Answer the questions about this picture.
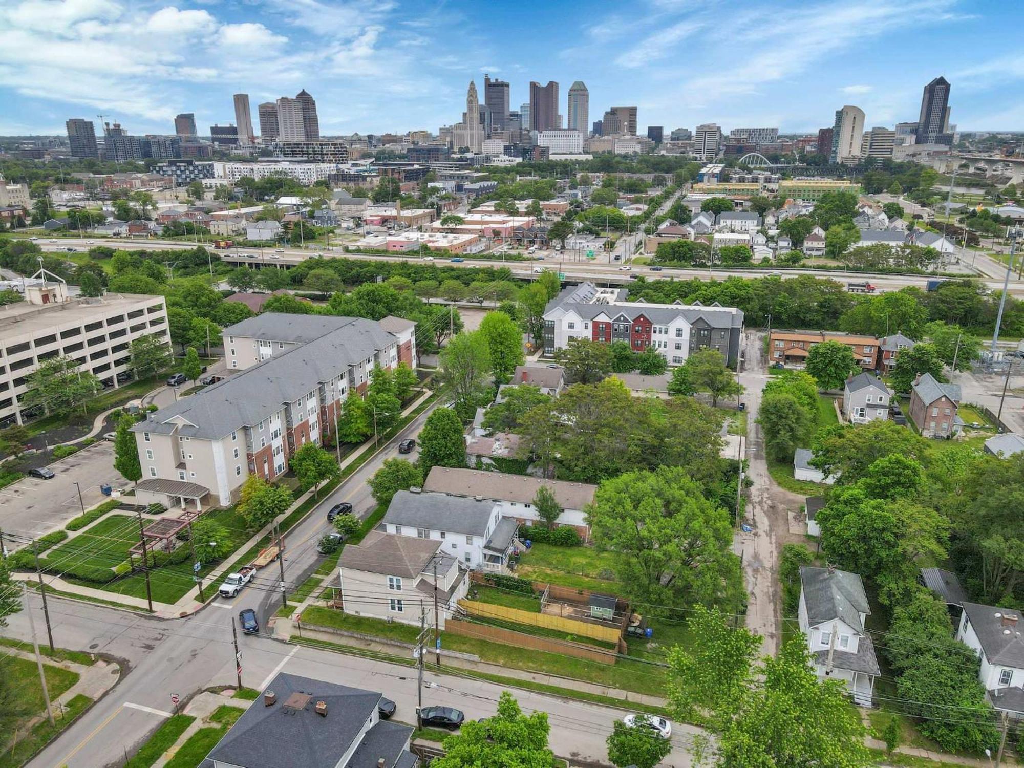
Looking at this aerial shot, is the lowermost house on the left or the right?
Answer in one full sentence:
You can find the lowermost house on the left side of the picture.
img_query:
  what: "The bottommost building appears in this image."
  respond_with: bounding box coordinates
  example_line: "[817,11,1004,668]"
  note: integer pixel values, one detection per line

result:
[199,676,420,768]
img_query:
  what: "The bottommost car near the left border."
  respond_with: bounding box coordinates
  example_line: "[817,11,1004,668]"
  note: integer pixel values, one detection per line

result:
[32,465,51,478]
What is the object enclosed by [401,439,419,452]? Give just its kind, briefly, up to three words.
vehicle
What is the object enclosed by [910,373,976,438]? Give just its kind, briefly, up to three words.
house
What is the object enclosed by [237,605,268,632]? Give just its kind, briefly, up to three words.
car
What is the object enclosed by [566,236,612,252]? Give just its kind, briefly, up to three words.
building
